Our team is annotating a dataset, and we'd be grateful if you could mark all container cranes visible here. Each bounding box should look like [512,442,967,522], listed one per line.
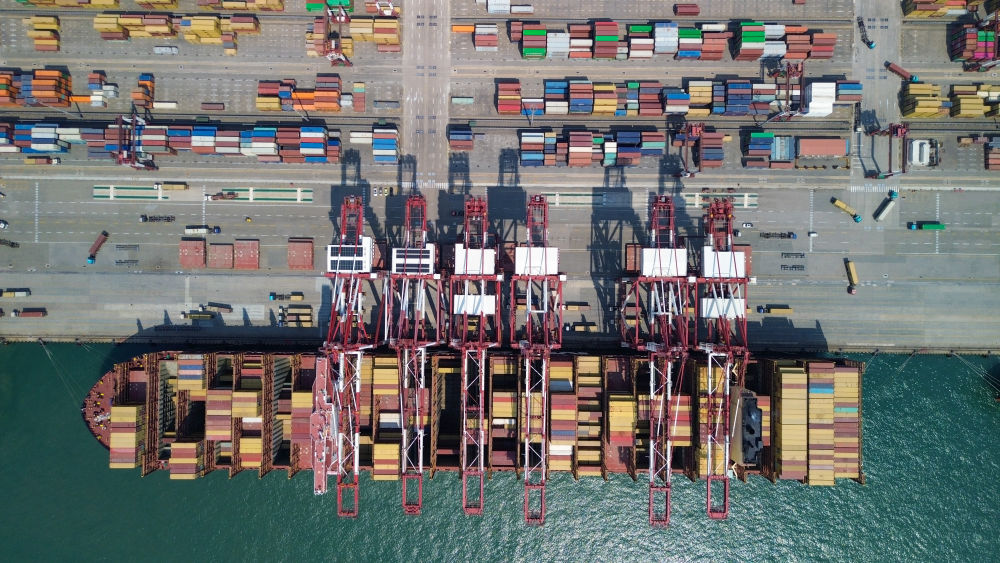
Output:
[323,3,355,70]
[673,196,756,518]
[669,124,704,181]
[448,193,509,516]
[958,8,1000,75]
[324,191,397,515]
[859,124,906,182]
[389,192,451,515]
[764,62,805,125]
[117,115,163,175]
[505,194,571,526]
[613,195,697,528]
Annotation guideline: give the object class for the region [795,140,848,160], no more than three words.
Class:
building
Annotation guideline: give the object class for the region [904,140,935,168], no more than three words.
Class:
shed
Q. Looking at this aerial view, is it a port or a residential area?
port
